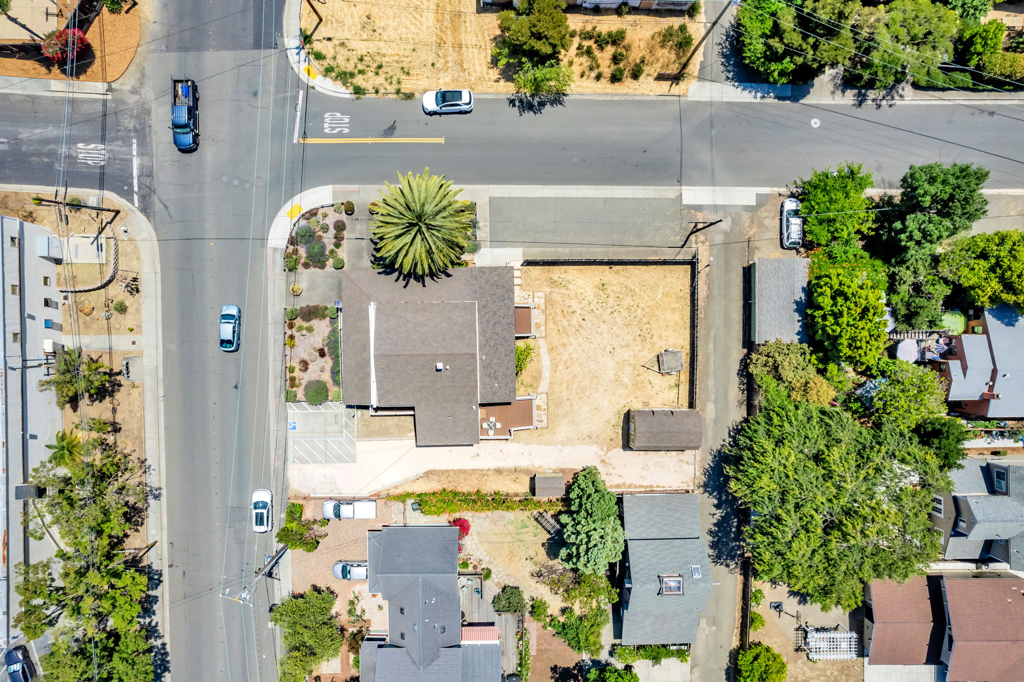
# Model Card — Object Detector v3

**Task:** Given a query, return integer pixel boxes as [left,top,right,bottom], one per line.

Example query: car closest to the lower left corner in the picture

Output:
[5,643,41,682]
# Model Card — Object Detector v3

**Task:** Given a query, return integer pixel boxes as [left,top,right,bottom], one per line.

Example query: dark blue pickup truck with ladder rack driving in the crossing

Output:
[172,77,201,149]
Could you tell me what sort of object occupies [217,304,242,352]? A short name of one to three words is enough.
car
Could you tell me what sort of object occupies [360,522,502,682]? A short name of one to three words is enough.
house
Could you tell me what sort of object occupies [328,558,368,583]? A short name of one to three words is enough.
car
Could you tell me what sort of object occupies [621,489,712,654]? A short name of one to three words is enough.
building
